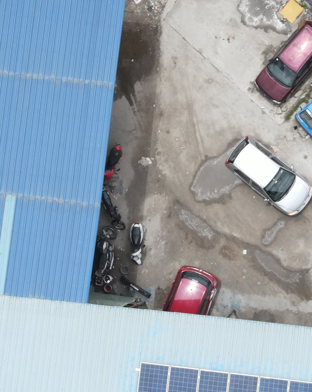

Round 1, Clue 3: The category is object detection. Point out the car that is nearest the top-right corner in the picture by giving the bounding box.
[256,18,312,104]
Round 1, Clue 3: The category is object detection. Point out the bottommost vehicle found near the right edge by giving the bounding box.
[225,136,310,213]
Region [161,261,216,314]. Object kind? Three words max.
car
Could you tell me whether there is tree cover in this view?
No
